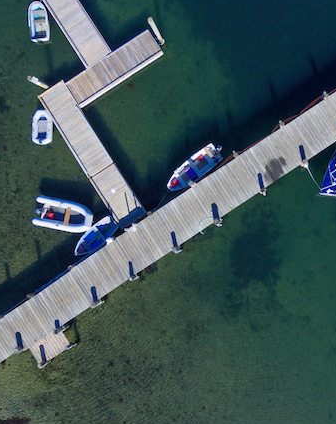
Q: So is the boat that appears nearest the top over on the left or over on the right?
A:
left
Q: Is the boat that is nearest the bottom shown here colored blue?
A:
Yes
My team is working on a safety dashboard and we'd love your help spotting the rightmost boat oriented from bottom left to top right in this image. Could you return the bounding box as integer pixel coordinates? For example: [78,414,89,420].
[167,143,223,189]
